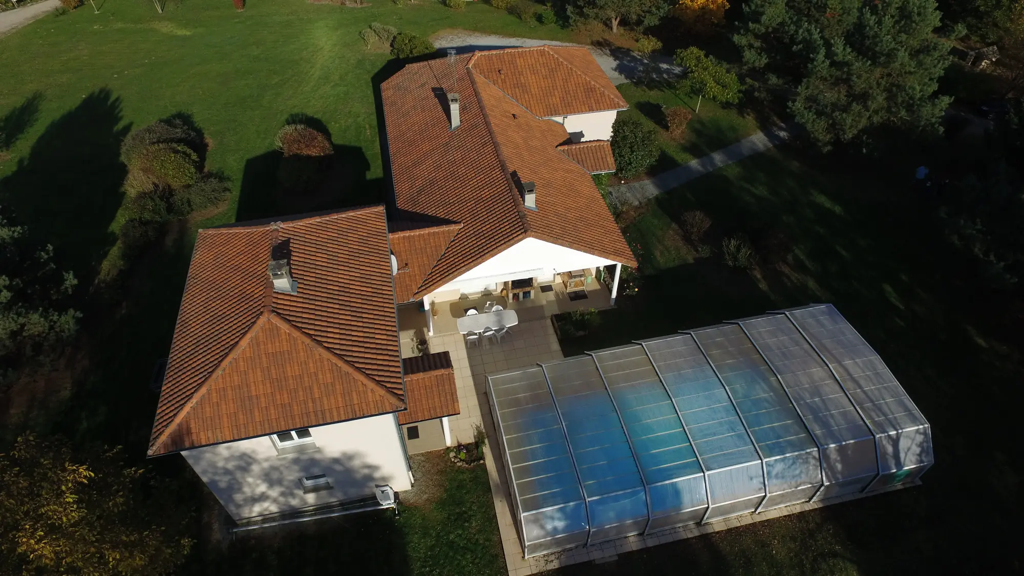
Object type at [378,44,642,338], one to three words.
house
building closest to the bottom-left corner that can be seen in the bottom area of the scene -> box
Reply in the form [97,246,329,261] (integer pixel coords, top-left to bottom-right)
[140,201,415,521]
